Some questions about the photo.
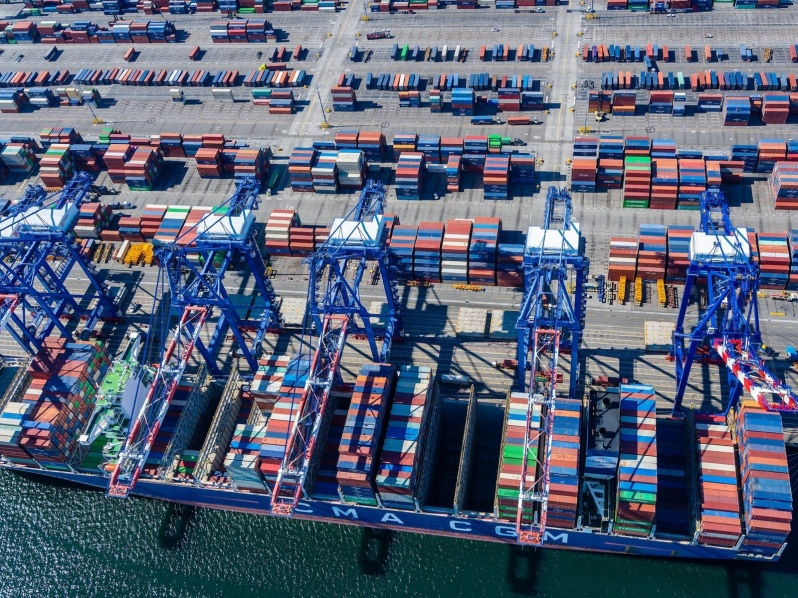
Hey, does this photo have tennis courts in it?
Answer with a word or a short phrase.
No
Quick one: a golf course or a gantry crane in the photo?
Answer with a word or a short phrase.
gantry crane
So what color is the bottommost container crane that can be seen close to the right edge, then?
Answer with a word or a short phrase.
blue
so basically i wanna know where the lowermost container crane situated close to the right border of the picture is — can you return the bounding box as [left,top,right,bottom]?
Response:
[663,193,798,420]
